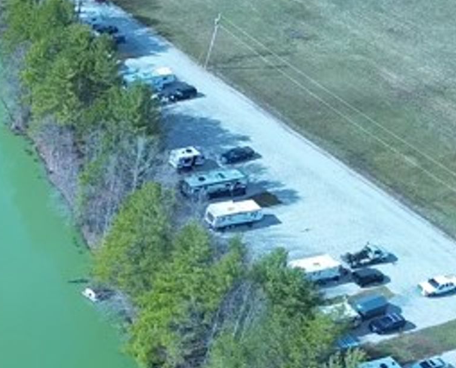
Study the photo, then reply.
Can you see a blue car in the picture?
Yes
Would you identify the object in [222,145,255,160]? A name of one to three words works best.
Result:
car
